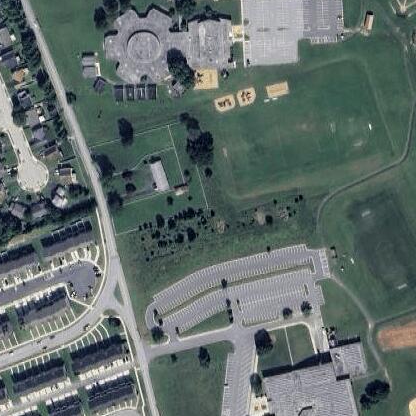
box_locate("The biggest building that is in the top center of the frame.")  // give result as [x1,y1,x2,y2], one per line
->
[104,9,231,83]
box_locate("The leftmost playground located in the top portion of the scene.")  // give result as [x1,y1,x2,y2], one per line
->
[194,67,218,89]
